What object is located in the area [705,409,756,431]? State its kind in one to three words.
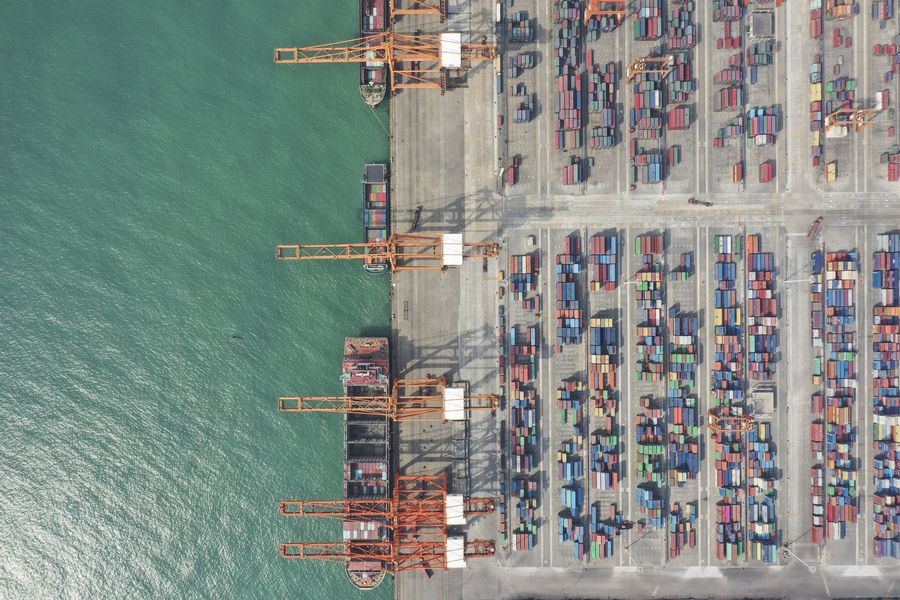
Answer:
container crane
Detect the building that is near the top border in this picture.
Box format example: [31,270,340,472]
[744,12,773,43]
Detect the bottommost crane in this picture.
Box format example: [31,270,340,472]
[278,504,503,575]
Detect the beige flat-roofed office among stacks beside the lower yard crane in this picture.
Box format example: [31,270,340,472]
[749,392,773,417]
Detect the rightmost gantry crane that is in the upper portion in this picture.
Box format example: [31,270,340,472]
[825,107,882,134]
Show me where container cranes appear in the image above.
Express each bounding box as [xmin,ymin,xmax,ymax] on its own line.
[627,56,674,85]
[388,0,445,29]
[705,409,756,431]
[584,0,628,28]
[275,227,499,281]
[278,504,503,575]
[273,25,497,101]
[825,107,882,134]
[278,460,502,530]
[277,365,501,424]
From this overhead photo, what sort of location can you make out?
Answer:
port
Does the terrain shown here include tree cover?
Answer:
No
